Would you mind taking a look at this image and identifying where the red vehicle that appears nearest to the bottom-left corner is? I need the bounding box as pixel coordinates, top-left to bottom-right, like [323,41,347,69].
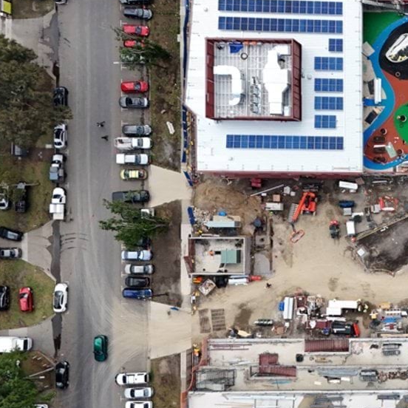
[19,287,34,313]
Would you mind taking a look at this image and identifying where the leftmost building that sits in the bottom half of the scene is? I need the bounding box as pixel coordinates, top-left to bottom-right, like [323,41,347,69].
[185,237,253,277]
